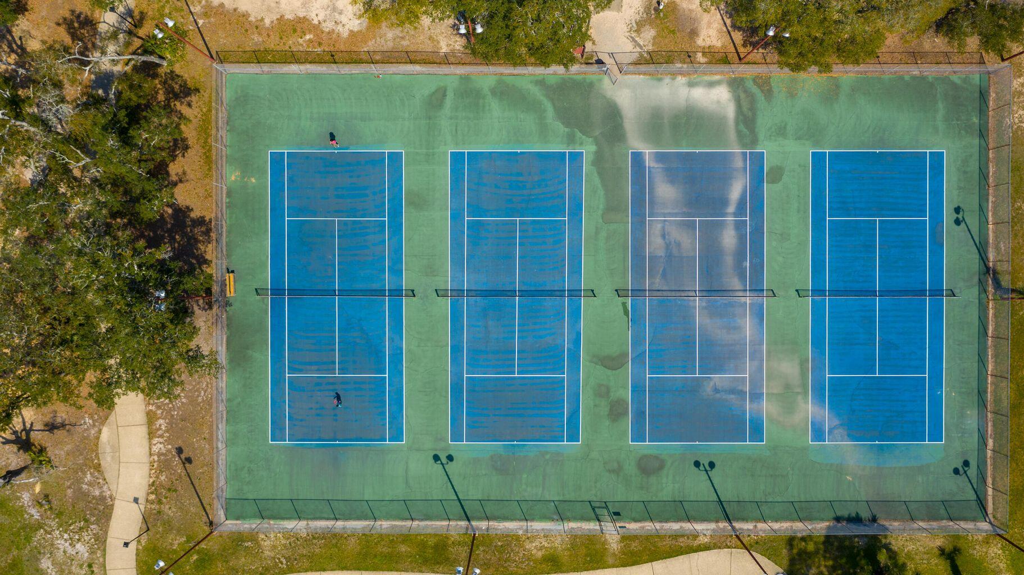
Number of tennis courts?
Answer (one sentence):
The photo contains 4 tennis courts.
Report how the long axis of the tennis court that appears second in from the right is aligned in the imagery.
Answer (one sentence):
The tennis court that appears second in from the right is oriented vertically.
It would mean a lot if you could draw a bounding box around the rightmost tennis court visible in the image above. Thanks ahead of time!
[810,150,946,443]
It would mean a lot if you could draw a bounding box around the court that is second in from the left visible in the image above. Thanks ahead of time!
[449,150,585,444]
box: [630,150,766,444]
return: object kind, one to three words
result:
tennis court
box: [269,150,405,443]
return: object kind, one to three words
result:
tennis court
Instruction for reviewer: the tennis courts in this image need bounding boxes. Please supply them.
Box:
[810,150,946,443]
[269,150,405,443]
[449,150,585,444]
[630,150,766,444]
